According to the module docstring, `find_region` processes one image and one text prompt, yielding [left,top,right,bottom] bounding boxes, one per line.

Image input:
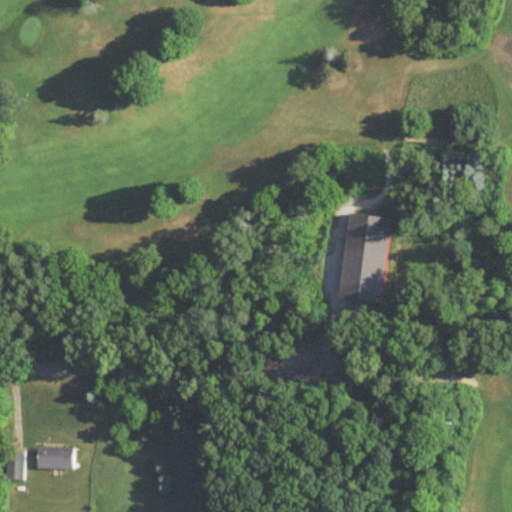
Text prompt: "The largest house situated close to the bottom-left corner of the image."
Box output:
[37,444,79,474]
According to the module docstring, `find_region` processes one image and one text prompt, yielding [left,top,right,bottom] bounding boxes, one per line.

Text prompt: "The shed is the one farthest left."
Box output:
[8,449,28,480]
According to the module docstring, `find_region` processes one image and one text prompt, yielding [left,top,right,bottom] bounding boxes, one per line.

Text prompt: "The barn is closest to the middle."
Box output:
[340,212,394,304]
